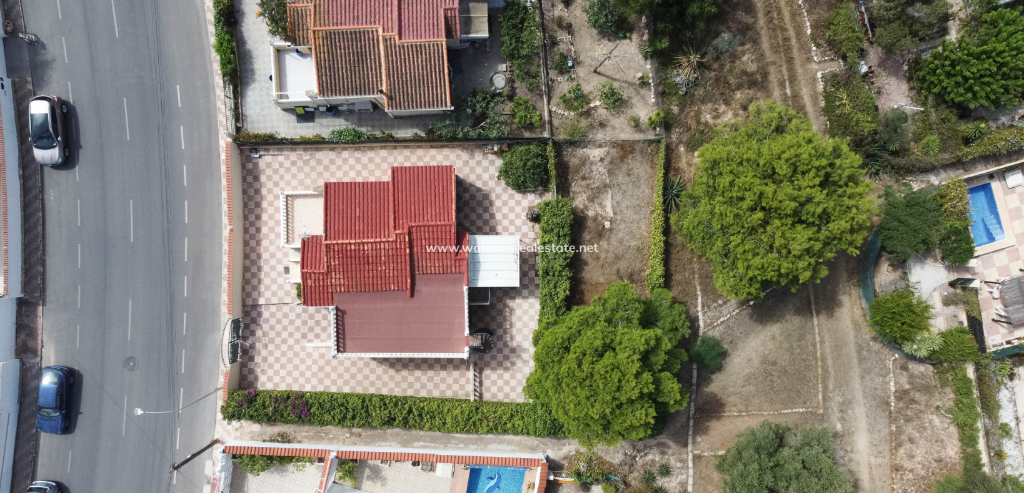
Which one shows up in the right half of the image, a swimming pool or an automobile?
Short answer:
swimming pool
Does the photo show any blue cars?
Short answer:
Yes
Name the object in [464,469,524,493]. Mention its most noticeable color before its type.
blue swimming pool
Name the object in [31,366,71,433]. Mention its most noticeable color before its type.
blue car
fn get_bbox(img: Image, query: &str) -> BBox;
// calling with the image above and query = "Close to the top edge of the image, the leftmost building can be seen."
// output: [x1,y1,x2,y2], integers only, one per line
[270,0,462,112]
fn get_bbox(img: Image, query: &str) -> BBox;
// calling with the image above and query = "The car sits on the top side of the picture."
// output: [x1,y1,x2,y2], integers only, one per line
[28,95,69,168]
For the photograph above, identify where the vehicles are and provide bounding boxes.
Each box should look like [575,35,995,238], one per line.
[26,477,62,493]
[31,366,71,433]
[28,95,69,168]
